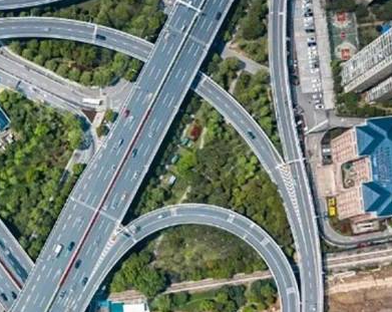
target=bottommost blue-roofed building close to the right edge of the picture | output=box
[333,116,392,225]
